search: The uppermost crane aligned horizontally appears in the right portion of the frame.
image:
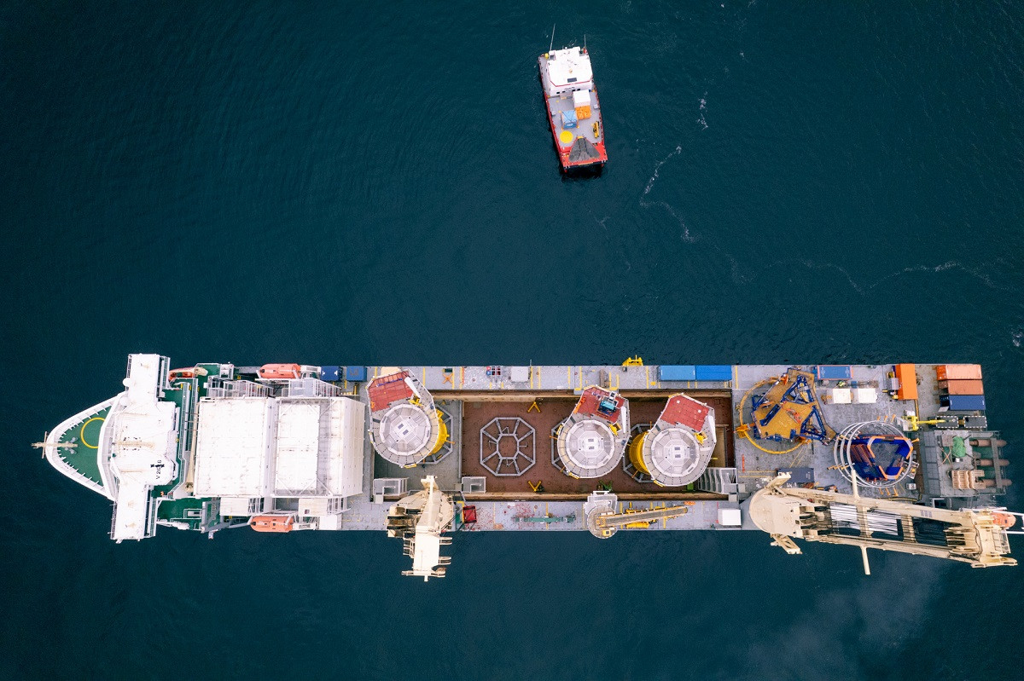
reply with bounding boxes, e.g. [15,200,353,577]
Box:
[892,410,945,431]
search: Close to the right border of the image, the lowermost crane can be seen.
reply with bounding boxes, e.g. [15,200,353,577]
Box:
[730,460,1016,575]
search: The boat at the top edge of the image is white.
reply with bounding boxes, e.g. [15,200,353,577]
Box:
[535,24,608,174]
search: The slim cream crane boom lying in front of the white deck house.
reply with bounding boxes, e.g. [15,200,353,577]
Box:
[183,401,199,493]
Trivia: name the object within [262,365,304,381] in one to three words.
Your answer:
boat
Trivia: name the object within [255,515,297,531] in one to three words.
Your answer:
boat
